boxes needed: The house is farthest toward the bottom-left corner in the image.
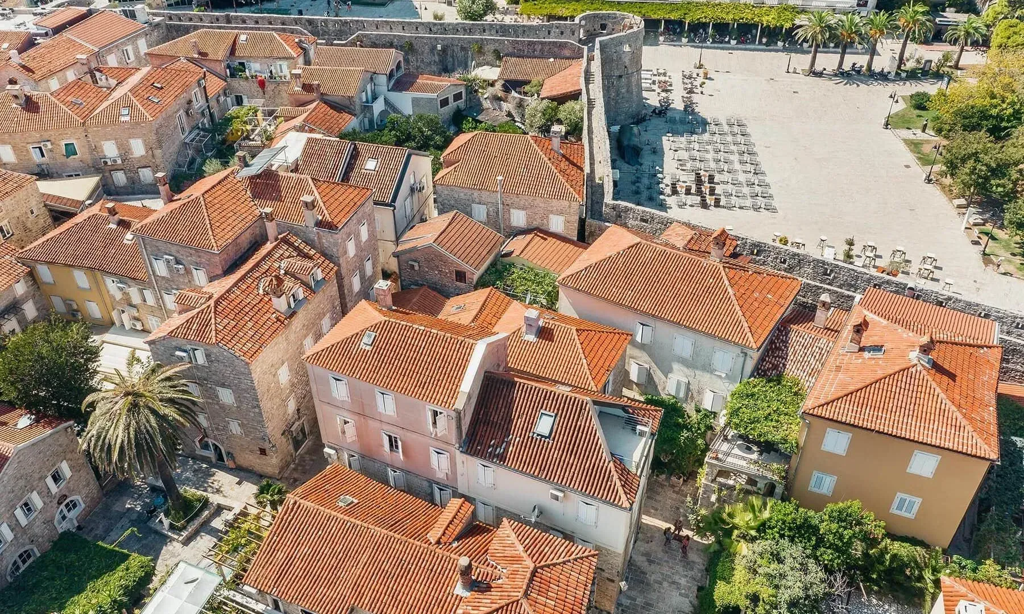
[0,389,102,574]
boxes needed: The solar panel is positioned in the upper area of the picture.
[235,144,293,193]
